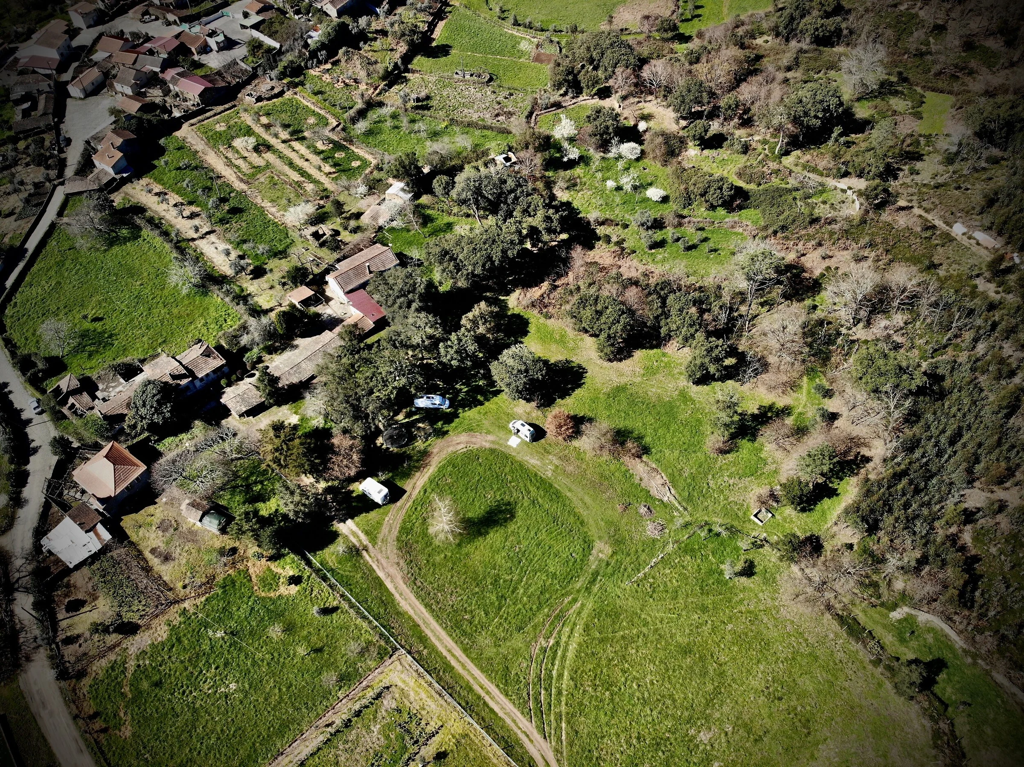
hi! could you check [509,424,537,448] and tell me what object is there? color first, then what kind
white vehicle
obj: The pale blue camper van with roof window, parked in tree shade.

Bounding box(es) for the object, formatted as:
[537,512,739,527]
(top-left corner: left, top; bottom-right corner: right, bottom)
[414,395,448,411]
